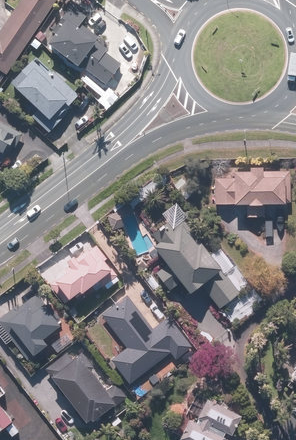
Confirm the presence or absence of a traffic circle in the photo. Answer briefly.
Yes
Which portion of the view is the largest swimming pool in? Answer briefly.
center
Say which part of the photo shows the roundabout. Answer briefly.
top right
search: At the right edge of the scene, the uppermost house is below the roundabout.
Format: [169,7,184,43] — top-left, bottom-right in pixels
[214,168,292,218]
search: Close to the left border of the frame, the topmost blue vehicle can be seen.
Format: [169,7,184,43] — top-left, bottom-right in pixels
[11,202,26,215]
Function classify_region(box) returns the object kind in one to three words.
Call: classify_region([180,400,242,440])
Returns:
house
